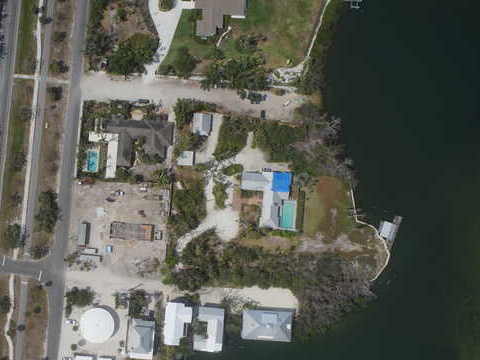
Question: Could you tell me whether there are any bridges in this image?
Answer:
No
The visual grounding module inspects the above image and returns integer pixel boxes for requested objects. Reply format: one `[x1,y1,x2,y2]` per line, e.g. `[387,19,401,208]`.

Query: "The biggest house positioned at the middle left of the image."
[88,118,174,178]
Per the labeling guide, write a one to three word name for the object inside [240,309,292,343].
house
